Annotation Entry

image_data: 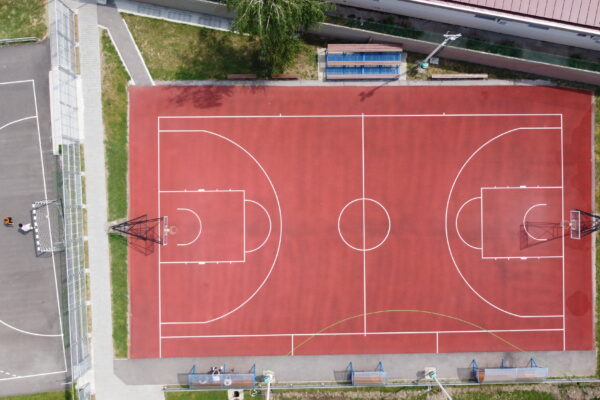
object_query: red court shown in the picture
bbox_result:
[128,86,594,365]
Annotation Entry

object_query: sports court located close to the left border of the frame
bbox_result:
[0,37,90,396]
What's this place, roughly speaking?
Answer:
sports ground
